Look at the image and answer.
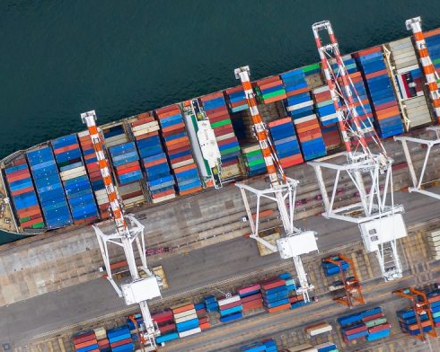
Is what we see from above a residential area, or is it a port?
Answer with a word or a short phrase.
port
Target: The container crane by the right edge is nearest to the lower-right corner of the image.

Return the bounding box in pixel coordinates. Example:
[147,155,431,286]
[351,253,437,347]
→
[391,286,440,345]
